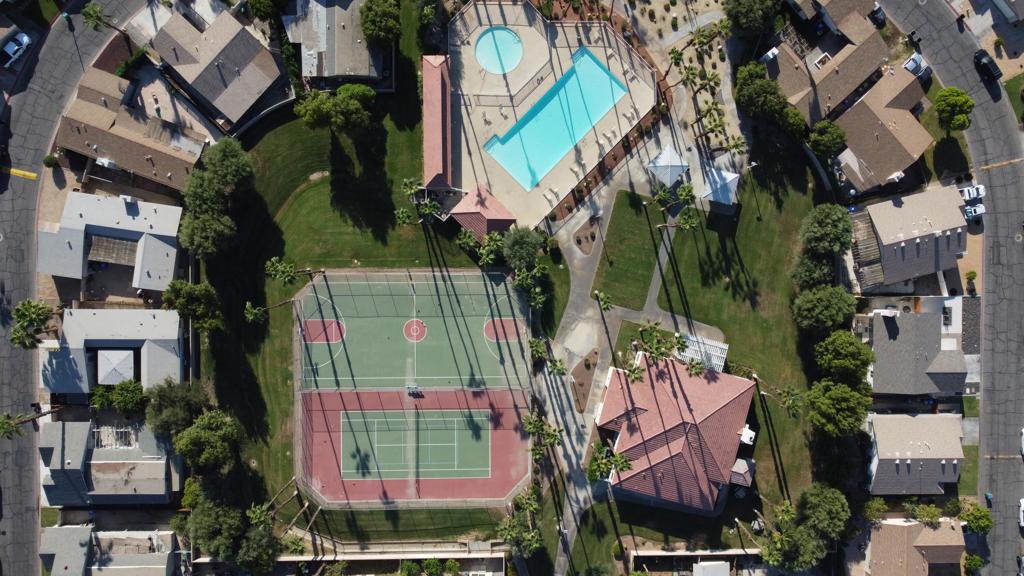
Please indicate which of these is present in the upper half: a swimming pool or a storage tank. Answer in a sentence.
The one visible in the upper half is a swimming pool.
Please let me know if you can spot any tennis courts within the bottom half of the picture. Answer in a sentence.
Yes, a tennis court can be seen within the bottom half of the picture.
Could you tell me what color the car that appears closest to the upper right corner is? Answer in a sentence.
The color of the car that appears closest to the upper right corner is black.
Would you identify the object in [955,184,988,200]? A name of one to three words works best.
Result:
car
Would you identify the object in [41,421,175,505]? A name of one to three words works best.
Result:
house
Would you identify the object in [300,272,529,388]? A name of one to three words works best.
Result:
basketball court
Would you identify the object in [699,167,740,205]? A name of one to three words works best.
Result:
gazebo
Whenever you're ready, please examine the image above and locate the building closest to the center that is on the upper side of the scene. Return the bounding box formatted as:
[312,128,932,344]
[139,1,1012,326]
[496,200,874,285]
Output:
[450,184,517,249]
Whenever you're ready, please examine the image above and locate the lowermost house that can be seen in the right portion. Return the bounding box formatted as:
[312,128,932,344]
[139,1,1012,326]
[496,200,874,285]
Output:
[864,517,965,576]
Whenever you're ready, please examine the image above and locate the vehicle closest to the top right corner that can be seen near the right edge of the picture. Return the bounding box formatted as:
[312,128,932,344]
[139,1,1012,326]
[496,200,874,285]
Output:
[974,49,1004,82]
